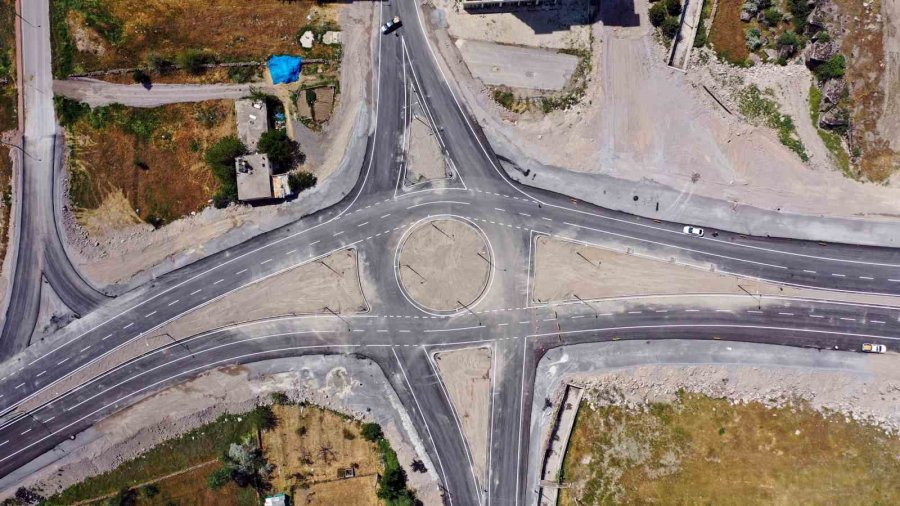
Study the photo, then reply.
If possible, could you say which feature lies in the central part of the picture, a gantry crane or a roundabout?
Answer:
roundabout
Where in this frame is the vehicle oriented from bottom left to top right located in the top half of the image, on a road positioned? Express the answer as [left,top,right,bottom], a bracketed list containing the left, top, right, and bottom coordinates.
[380,13,403,33]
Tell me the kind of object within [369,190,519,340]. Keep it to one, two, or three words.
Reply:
roundabout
